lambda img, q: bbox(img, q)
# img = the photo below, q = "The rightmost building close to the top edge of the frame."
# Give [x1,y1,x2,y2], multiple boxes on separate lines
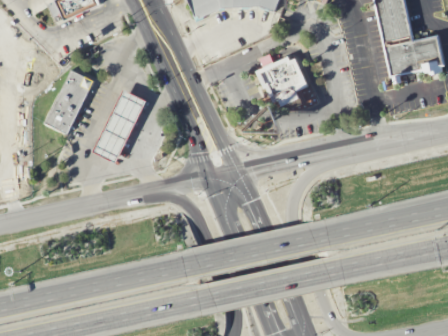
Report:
[374,0,445,90]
